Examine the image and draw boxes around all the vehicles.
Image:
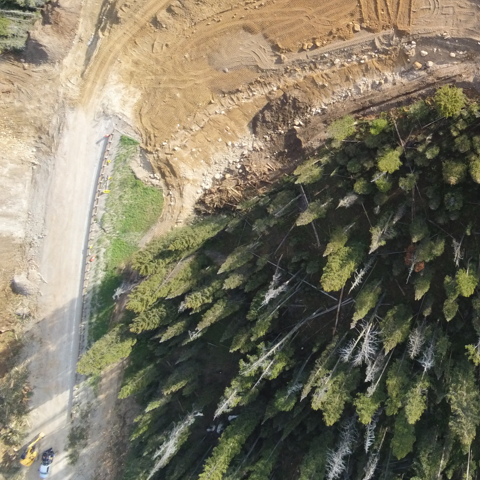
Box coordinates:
[38,446,58,480]
[23,439,45,469]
